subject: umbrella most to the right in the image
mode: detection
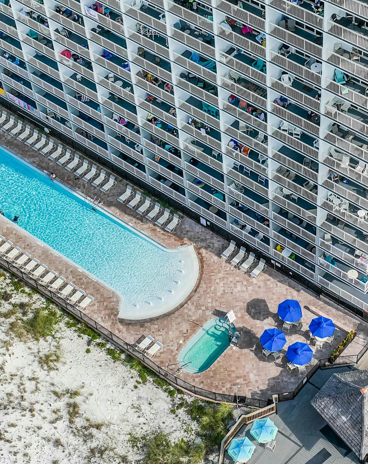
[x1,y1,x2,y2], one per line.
[307,317,337,344]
